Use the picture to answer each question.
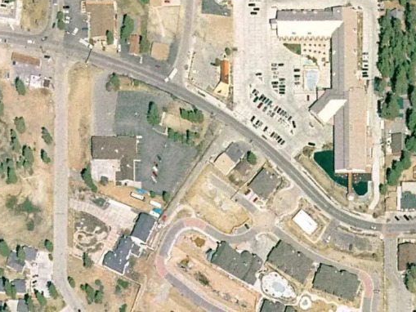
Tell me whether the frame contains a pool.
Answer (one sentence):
Yes, you can see a pool in this photo.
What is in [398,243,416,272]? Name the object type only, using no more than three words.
building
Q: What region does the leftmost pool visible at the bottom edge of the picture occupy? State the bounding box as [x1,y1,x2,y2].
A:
[262,271,296,299]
